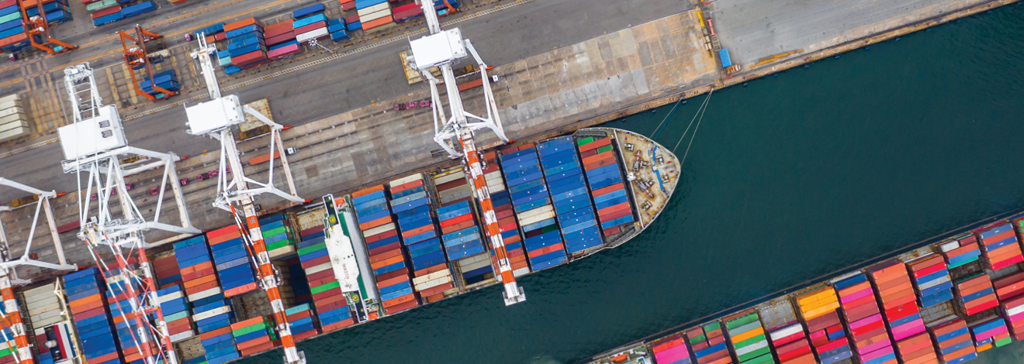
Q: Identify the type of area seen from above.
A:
port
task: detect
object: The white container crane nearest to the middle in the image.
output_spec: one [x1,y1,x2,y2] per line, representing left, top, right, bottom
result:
[403,0,527,306]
